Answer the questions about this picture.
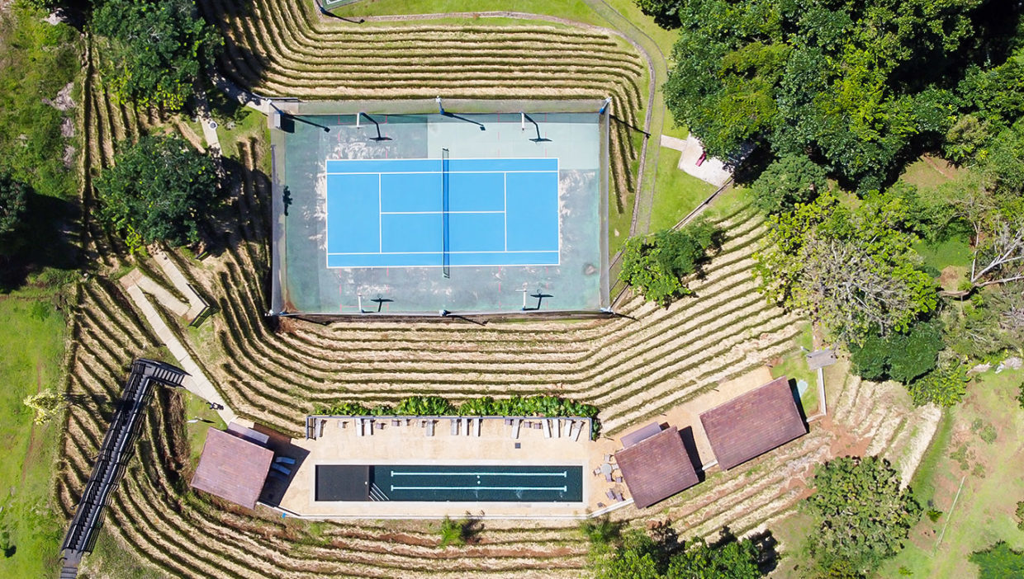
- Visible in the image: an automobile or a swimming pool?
swimming pool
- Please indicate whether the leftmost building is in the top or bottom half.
bottom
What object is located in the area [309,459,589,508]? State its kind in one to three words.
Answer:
swimming pool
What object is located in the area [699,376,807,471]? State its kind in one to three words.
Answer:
building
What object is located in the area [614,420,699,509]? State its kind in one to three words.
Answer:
building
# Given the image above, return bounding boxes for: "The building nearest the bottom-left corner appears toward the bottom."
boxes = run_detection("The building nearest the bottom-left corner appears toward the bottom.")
[190,419,277,510]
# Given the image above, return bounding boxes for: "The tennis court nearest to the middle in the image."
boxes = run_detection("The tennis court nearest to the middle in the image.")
[284,112,602,312]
